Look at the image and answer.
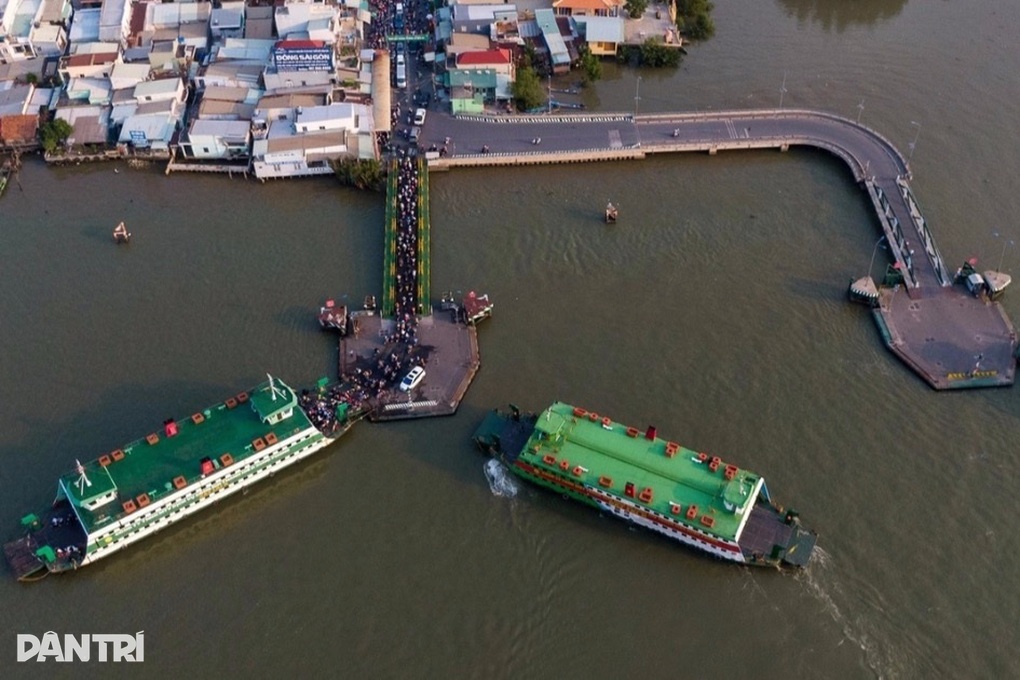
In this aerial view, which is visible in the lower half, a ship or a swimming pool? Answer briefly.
ship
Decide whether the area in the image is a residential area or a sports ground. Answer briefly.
residential area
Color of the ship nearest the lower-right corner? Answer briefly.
green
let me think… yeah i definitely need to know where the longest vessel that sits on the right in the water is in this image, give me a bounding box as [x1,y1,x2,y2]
[468,397,820,574]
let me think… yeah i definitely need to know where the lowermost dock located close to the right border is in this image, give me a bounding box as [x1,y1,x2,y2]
[871,282,1019,395]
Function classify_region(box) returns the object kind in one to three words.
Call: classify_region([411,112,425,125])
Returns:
vehicle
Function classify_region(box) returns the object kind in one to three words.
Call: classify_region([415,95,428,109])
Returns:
vehicle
